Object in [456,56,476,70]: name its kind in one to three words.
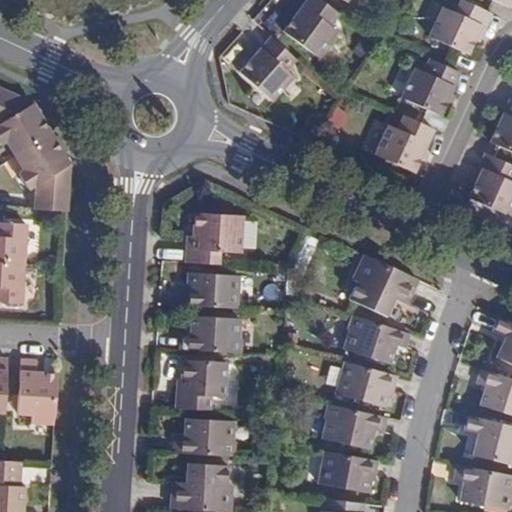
car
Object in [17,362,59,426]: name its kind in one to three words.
house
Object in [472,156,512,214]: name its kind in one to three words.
house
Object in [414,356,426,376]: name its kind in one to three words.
vehicle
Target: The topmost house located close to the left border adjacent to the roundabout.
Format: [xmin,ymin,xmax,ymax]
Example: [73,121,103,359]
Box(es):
[0,103,71,211]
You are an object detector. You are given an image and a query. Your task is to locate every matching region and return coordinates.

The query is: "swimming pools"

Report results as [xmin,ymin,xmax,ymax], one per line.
[258,282,282,302]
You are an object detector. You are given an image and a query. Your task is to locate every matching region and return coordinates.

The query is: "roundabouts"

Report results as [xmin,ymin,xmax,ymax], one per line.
[107,63,206,167]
